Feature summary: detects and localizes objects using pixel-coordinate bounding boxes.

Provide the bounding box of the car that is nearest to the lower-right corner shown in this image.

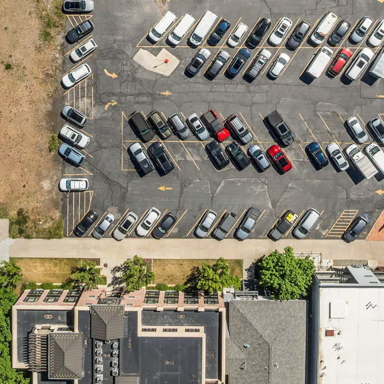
[343,214,368,244]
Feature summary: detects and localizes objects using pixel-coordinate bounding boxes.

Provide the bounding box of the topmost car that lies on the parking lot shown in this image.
[63,0,94,13]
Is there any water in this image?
No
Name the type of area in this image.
parking lot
